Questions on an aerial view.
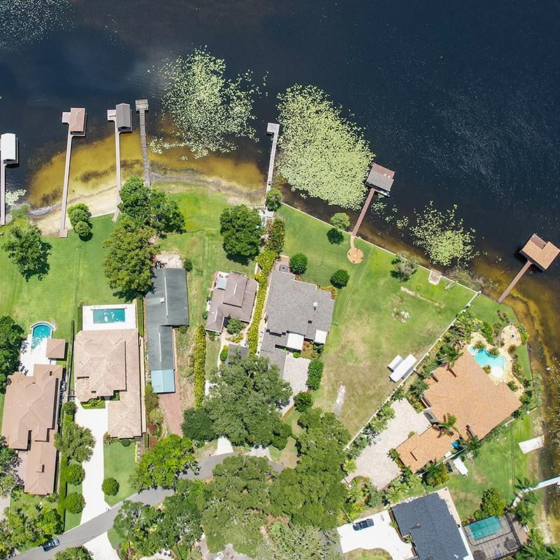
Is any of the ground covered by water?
Yes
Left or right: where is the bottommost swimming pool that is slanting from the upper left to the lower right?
right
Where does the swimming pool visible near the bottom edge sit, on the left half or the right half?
right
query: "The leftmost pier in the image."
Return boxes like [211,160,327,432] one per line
[0,133,20,223]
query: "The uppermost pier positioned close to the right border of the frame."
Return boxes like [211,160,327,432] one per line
[498,233,560,304]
